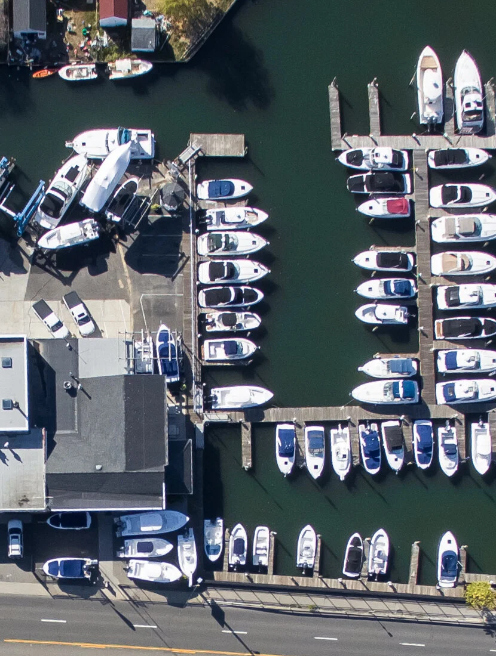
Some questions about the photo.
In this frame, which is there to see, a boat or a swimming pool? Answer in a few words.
boat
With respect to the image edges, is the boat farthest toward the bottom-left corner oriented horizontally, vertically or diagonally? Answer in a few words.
horizontally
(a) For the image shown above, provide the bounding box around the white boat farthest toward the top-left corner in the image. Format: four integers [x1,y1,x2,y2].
[59,63,101,81]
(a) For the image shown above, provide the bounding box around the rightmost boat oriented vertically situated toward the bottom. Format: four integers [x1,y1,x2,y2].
[469,414,492,473]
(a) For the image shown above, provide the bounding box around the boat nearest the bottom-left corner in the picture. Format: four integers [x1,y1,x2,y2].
[43,559,104,579]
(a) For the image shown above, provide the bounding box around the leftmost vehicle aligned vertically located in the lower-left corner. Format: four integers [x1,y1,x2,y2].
[6,521,23,558]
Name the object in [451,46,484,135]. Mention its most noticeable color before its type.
white boat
